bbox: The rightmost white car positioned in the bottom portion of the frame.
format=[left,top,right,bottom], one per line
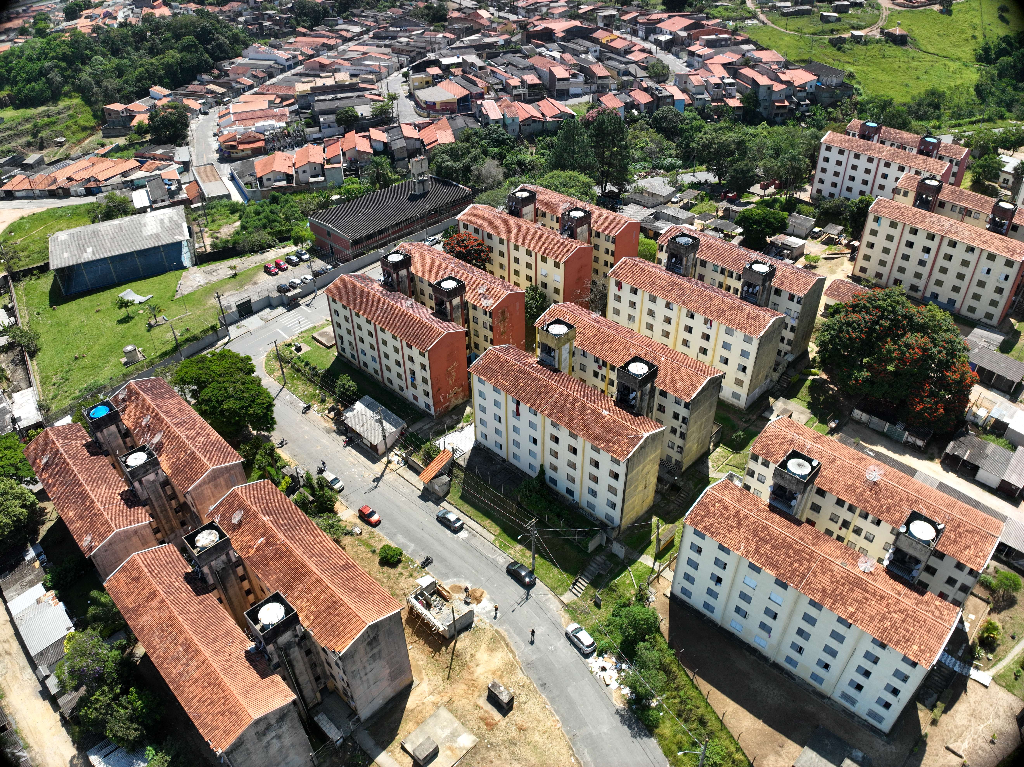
[565,622,597,653]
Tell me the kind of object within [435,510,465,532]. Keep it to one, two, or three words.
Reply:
car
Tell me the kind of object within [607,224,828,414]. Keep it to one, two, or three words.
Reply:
building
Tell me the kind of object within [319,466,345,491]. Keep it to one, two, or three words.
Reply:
car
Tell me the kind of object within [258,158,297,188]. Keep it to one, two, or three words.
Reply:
house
